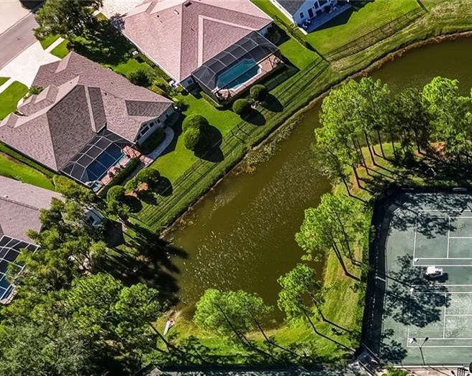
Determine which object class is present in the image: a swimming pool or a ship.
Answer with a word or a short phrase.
swimming pool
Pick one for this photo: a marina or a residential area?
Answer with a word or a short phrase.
residential area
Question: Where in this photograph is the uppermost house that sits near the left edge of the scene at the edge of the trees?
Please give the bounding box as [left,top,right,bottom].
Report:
[0,51,175,176]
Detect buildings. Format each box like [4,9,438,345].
[0,51,175,176]
[276,0,342,22]
[0,176,65,260]
[116,0,274,91]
